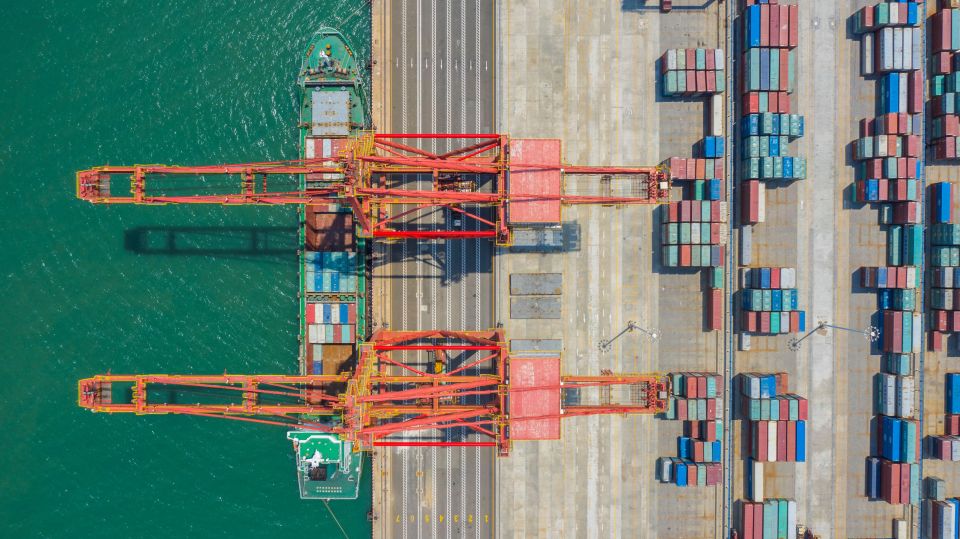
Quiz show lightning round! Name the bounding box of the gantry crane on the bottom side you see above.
[73,322,672,454]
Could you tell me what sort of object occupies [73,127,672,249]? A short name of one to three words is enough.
container crane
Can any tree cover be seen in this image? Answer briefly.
No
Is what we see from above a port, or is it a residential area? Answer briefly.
port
